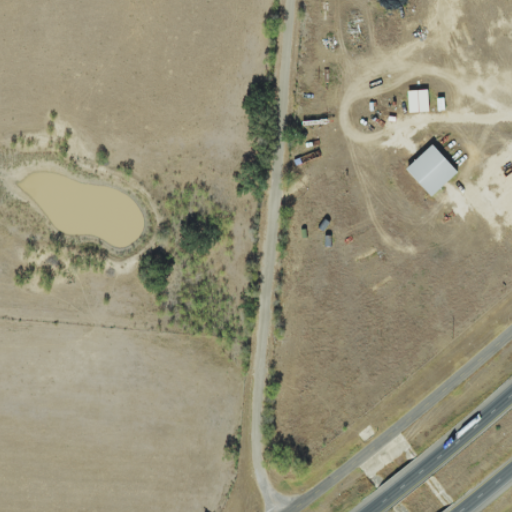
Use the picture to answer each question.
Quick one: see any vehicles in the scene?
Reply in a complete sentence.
Yes, a vehicle appears in the view.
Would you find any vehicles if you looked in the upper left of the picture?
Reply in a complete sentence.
No, no vehicle appears in the upper left of the picture.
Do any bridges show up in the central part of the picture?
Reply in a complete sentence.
No, in the central part of the picture there is no bridge.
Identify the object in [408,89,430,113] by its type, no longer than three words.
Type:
barn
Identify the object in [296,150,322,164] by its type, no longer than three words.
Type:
vehicle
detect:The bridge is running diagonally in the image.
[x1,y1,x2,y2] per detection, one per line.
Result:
[379,458,432,508]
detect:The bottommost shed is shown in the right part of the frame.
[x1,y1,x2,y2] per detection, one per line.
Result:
[408,145,458,195]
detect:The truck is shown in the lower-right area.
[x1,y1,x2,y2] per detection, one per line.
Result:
[444,416,483,449]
